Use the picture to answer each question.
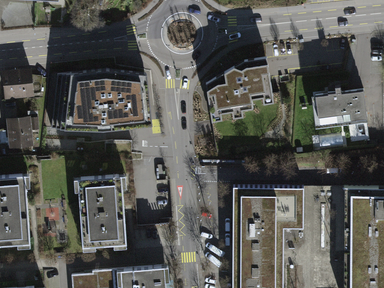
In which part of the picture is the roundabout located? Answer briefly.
top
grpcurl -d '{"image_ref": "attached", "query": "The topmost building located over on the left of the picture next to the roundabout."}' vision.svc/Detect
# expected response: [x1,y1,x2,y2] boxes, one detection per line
[52,68,151,130]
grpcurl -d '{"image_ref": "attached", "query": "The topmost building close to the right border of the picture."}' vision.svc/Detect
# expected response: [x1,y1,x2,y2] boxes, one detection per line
[312,84,366,128]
